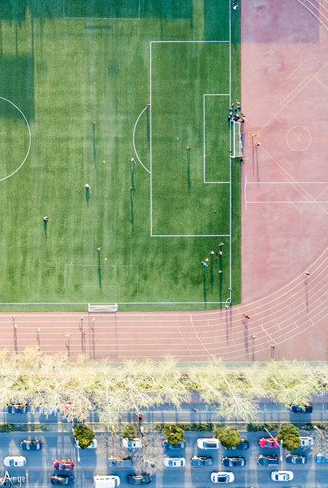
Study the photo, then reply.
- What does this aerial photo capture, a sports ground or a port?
sports ground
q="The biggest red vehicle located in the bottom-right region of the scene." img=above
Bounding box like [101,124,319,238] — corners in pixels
[256,436,280,448]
